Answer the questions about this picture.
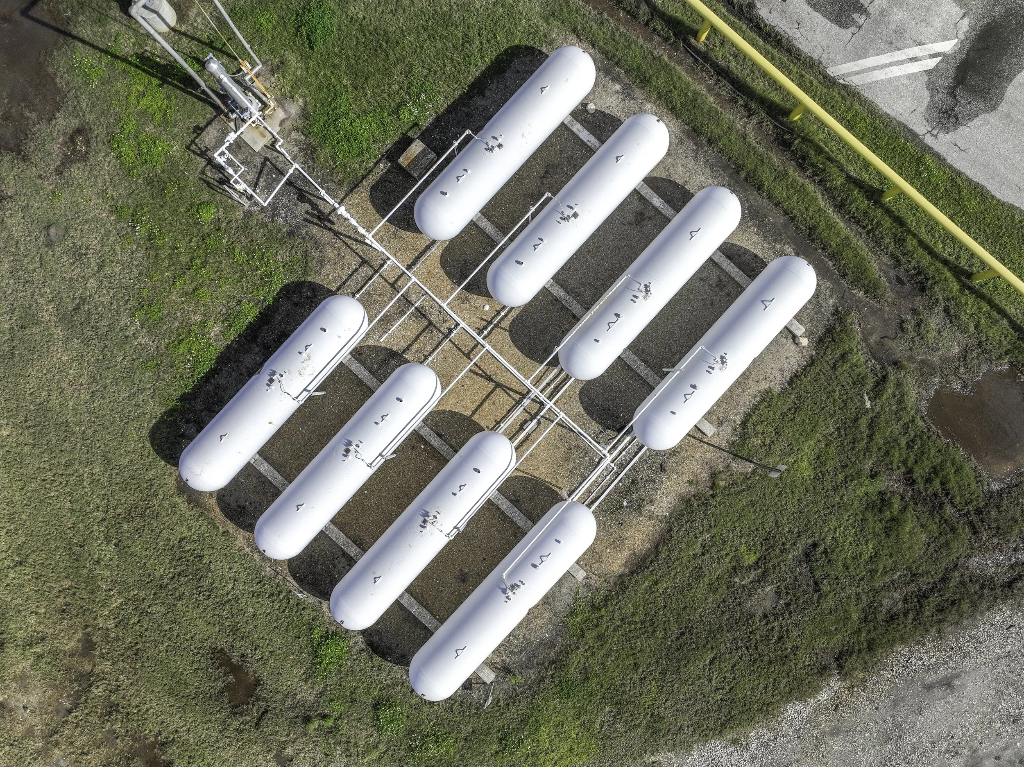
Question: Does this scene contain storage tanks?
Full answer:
Yes, there is a storage tank in the image.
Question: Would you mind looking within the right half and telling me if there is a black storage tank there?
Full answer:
No, there's no black storage tank to be seen within the right half.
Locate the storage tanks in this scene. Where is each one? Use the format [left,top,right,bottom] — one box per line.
[177,296,367,491]
[488,113,668,306]
[415,44,594,239]
[253,364,440,560]
[409,501,596,703]
[330,431,515,631]
[633,256,817,449]
[559,186,741,379]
